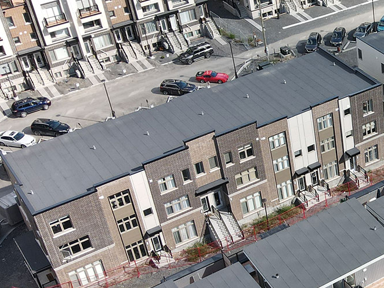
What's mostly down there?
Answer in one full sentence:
What you mostly see from above here is buildings.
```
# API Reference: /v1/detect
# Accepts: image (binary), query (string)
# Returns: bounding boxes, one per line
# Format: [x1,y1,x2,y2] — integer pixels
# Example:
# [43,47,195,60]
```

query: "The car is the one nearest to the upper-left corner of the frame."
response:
[11,93,51,114]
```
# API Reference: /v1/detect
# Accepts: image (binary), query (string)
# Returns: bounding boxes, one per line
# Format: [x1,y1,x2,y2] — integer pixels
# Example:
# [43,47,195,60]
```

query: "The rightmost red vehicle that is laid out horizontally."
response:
[194,71,230,85]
